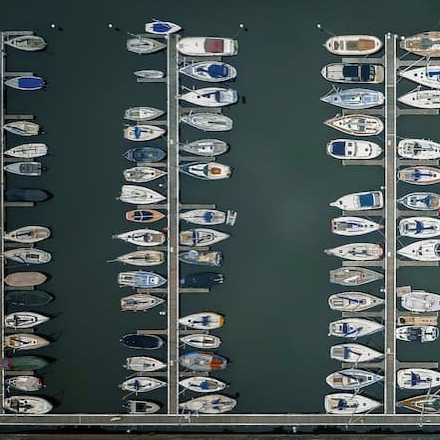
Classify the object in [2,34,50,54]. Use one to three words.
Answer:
boat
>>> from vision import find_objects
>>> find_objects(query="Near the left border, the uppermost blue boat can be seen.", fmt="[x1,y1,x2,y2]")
[1,76,53,91]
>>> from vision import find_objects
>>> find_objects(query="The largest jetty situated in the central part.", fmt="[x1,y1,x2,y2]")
[138,33,222,414]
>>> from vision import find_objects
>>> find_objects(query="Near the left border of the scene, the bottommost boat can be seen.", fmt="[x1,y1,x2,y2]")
[3,393,53,414]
